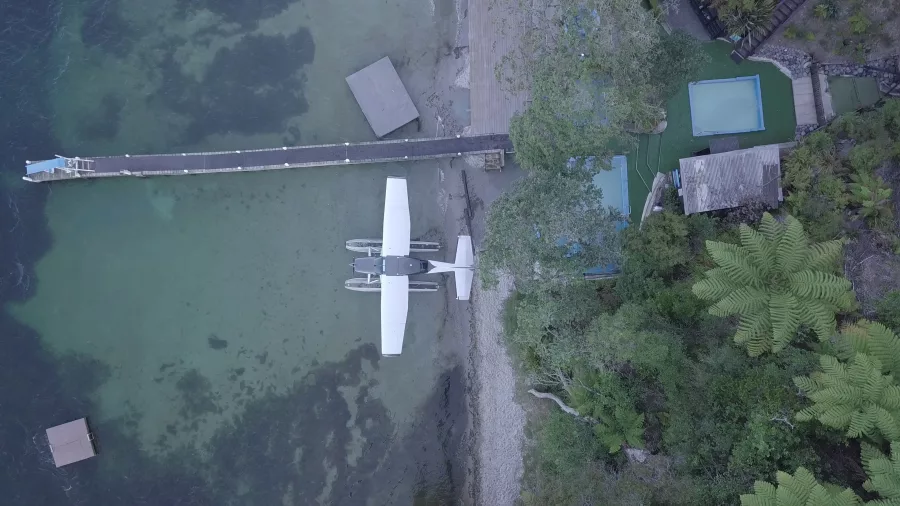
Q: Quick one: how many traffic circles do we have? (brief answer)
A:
zero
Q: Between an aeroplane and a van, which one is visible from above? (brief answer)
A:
aeroplane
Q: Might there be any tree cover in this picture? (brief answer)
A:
Yes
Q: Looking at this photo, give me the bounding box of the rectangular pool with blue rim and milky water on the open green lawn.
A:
[687,76,766,138]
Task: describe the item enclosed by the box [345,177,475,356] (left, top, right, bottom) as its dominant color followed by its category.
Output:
white airplane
